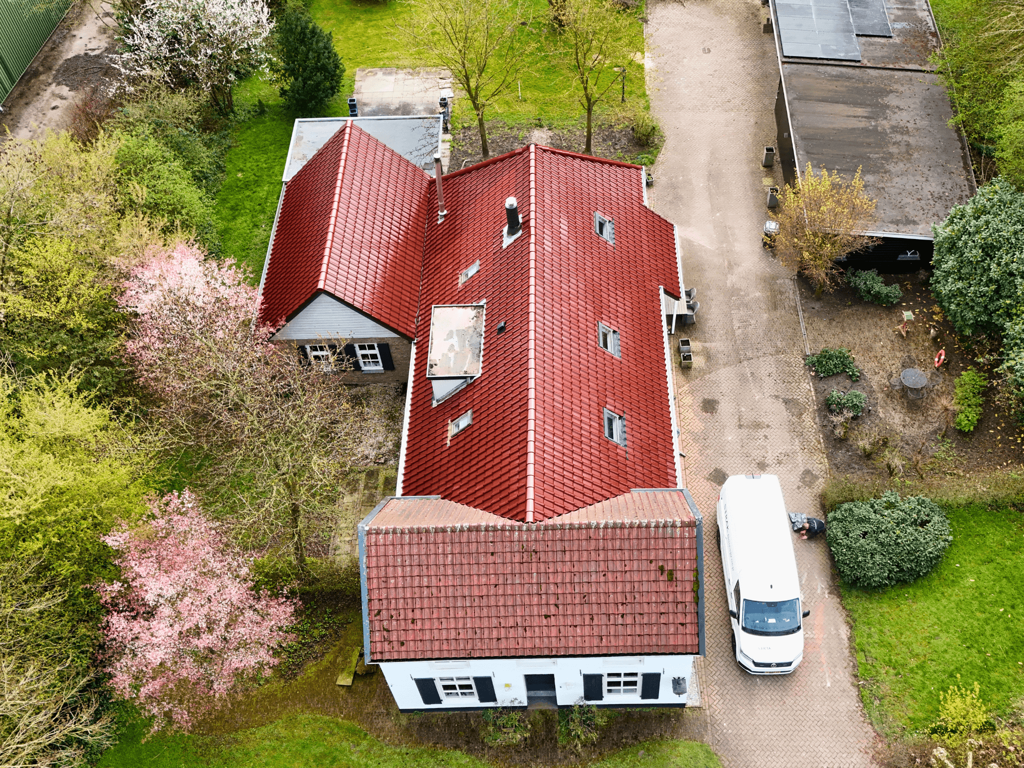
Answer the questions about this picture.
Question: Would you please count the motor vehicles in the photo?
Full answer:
The photo contains exactly 1 motor vehicle.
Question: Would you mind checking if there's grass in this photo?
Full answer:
Yes, there is grass in the image.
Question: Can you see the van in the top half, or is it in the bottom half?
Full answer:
The van sits in the bottom half of the picture.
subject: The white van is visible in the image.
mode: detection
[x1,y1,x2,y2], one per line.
[712,470,812,670]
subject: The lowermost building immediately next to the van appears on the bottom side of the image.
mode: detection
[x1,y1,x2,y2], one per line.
[357,483,705,719]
